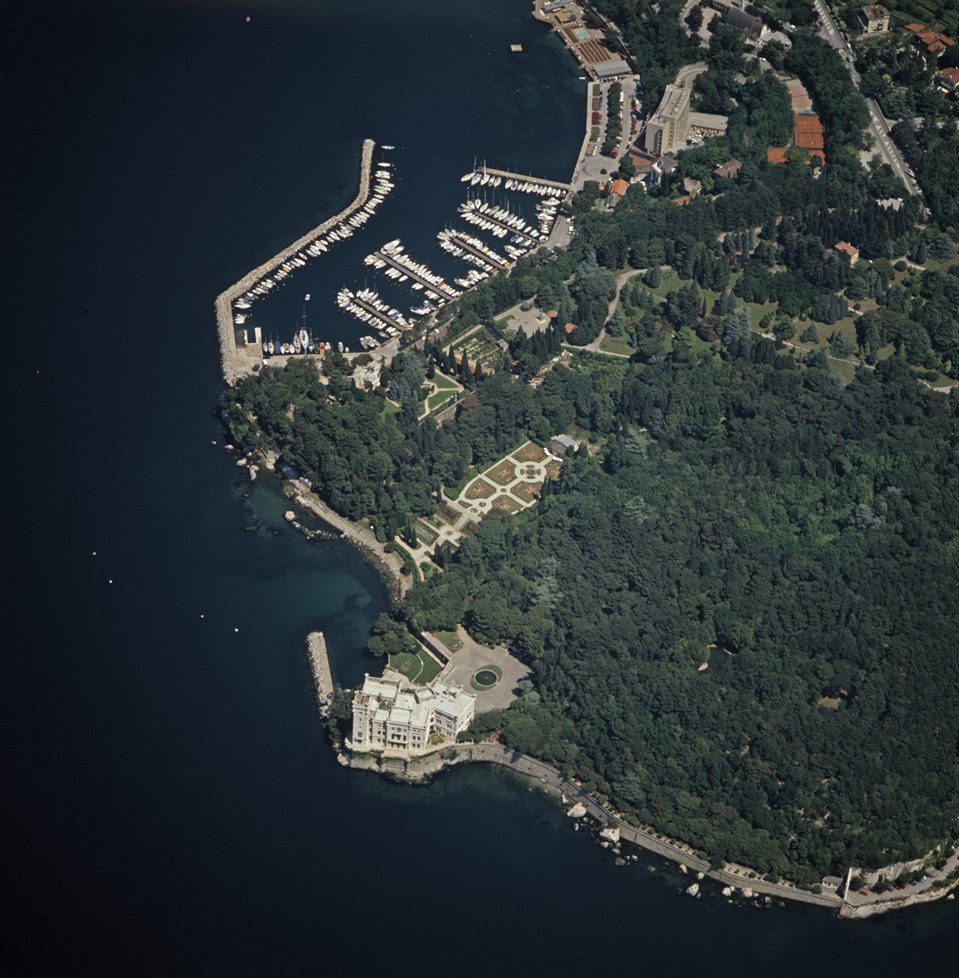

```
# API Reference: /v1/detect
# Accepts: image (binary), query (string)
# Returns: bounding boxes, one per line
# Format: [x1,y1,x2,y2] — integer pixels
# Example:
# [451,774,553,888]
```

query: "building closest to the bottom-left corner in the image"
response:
[350,673,480,755]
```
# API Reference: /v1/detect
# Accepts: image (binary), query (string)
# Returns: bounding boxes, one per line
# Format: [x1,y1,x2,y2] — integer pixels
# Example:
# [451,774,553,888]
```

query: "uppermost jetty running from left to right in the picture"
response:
[477,166,570,188]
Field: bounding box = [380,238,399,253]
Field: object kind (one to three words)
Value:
boat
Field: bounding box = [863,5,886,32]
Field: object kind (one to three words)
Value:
house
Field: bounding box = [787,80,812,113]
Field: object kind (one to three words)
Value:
tennis court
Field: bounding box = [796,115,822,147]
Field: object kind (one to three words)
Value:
tennis court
